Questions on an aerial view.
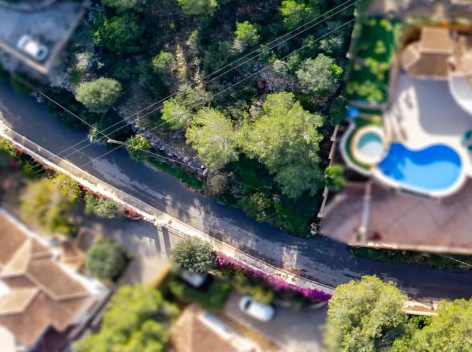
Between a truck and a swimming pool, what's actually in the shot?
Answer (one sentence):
Looking from above, you can make out a swimming pool.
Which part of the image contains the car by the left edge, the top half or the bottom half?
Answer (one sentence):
It is in the top half that the car by the left edge appears.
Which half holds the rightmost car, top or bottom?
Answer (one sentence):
The rightmost car sits in the bottom half of the picture.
